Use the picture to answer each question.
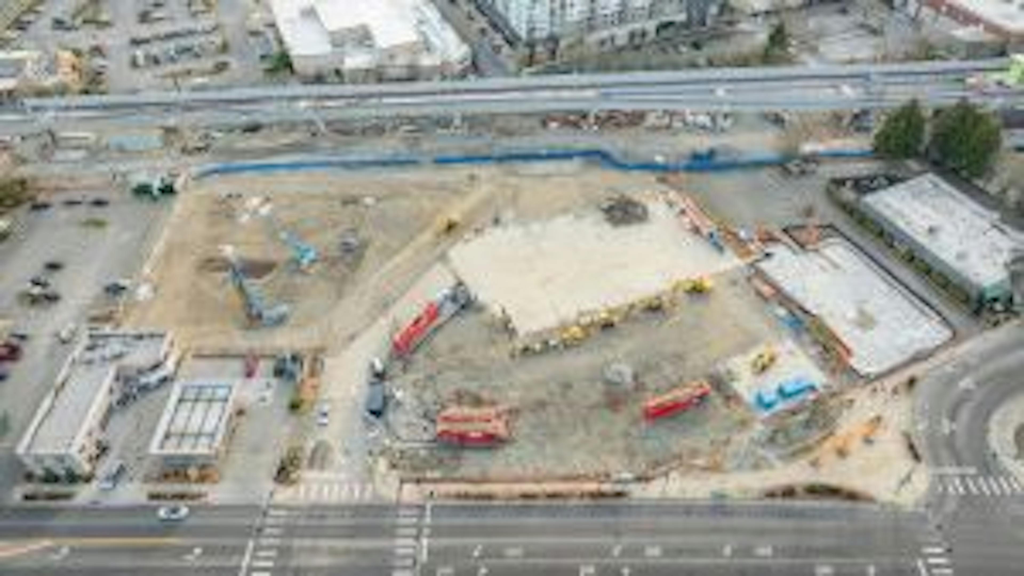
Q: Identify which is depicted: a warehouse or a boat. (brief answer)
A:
warehouse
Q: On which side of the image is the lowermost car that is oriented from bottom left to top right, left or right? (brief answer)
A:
left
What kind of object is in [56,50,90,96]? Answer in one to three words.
building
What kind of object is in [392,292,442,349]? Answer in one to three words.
trailer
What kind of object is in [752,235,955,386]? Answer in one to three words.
warehouse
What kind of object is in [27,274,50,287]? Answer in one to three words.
vehicle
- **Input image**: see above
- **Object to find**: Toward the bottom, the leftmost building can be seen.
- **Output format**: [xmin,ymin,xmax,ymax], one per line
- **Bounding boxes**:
[17,330,180,477]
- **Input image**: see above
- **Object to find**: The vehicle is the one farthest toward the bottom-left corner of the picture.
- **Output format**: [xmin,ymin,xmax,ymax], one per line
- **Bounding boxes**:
[99,465,126,493]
